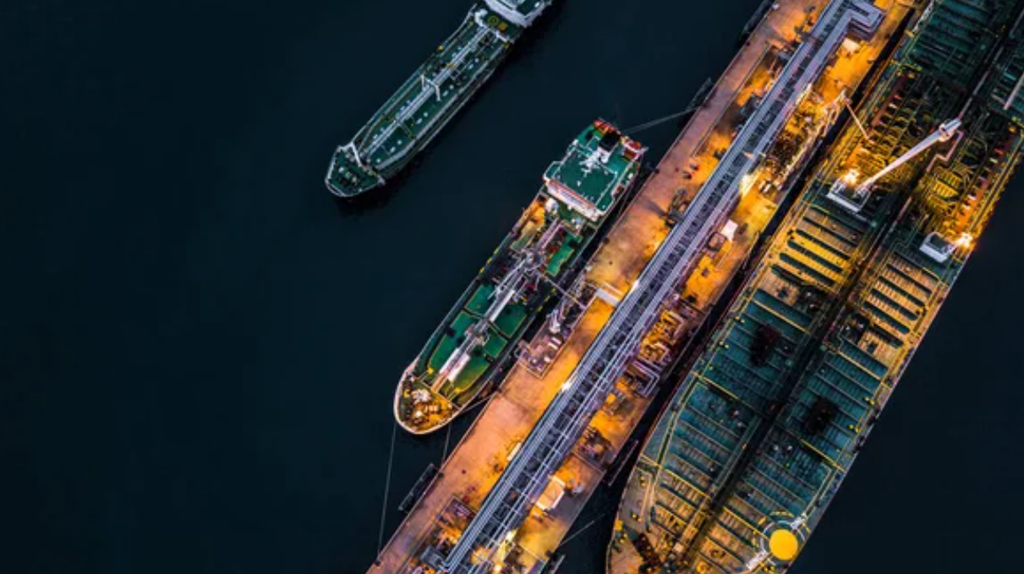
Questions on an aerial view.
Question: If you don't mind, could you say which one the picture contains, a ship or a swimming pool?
ship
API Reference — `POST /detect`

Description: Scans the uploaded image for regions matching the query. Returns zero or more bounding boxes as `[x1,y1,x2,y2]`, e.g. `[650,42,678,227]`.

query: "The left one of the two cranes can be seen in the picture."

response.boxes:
[485,234,537,294]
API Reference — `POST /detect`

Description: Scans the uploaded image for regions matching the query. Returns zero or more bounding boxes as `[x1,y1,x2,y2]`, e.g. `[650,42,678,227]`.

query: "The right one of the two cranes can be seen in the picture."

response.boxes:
[853,123,969,195]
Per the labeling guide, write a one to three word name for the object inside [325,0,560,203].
ship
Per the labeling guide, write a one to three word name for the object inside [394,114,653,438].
ship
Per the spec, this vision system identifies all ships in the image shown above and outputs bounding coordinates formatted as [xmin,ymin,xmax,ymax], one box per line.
[606,0,1024,574]
[325,0,560,203]
[394,114,653,438]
